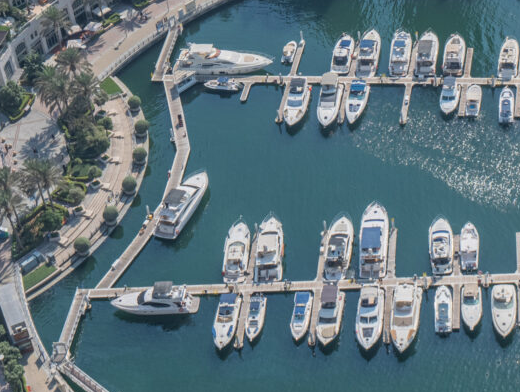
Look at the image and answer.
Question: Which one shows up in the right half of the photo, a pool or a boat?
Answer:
boat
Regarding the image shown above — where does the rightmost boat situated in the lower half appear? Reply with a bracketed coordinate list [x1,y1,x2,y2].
[490,285,518,339]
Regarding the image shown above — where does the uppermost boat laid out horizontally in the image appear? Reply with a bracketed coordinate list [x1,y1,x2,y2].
[170,43,273,79]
